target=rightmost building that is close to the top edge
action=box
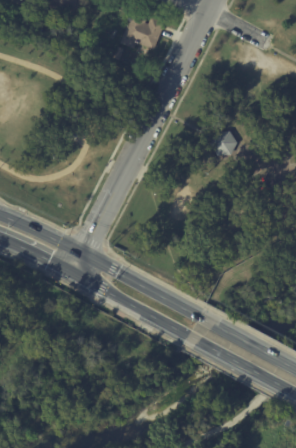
[126,20,163,52]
